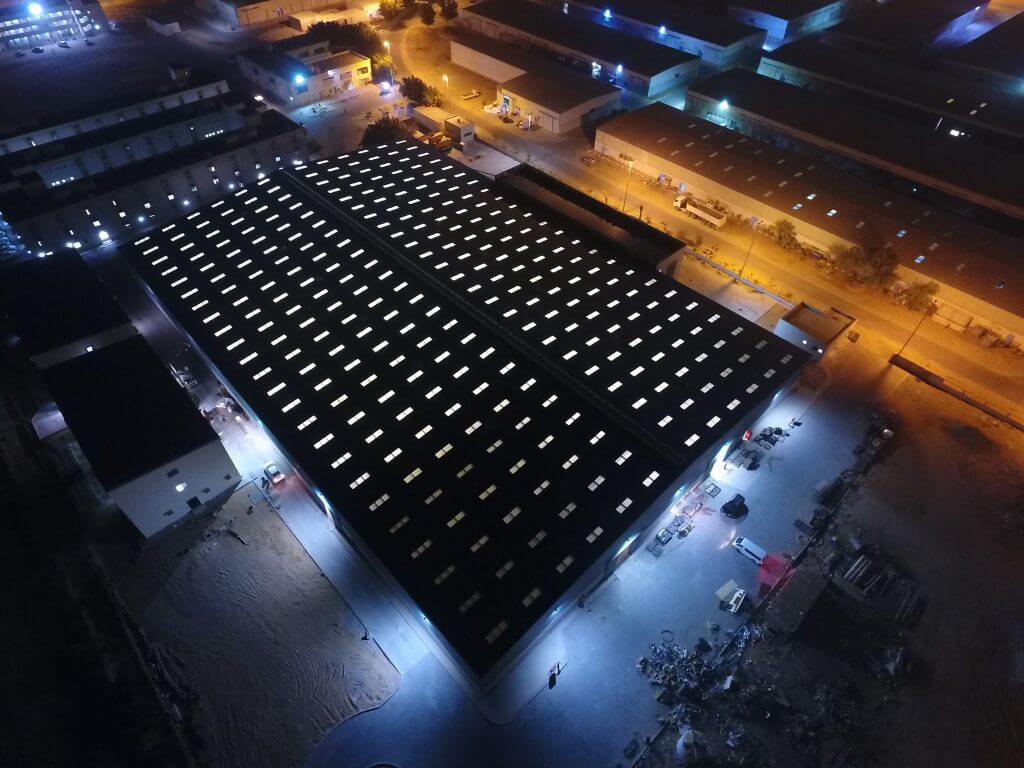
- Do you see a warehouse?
Yes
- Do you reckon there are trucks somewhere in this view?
Yes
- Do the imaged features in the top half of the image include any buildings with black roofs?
Yes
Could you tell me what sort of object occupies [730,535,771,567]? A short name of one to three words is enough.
vehicle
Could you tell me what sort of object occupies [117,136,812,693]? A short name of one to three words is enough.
warehouse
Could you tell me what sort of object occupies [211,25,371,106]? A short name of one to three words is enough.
building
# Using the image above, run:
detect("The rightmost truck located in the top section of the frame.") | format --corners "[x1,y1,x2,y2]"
[671,193,730,228]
